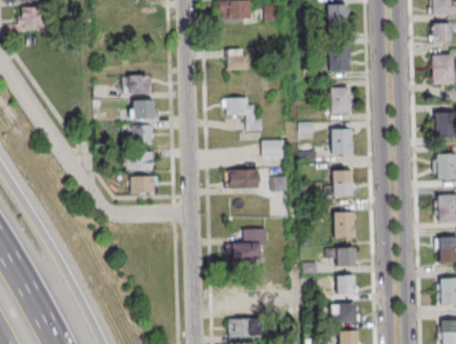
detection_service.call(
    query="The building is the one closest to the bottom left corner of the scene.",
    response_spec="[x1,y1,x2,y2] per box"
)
[130,176,159,197]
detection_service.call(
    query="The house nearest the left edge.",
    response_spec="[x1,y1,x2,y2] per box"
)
[14,6,46,34]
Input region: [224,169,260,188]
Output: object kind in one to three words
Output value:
house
